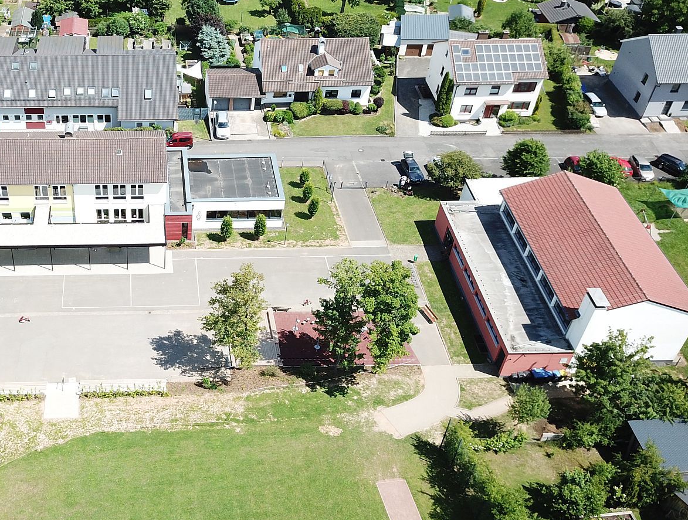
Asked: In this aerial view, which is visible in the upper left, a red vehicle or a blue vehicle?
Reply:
red vehicle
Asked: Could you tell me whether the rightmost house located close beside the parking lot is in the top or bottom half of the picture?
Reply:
top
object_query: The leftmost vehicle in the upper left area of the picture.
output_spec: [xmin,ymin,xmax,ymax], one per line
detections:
[165,129,199,148]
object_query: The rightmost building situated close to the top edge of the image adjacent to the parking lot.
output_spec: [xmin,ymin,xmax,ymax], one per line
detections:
[603,22,688,122]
